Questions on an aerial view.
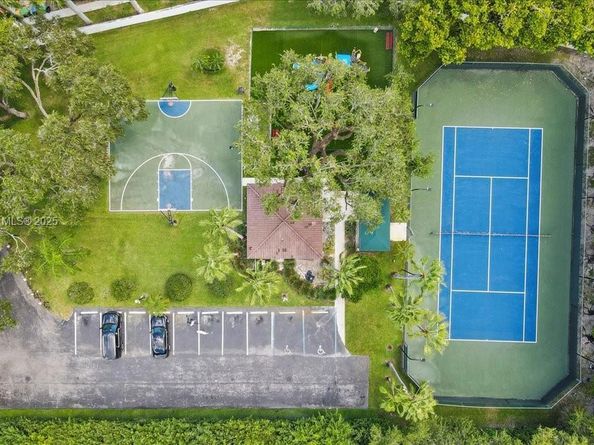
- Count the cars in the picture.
two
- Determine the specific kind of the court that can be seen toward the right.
tennis court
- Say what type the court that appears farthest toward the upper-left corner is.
basketball court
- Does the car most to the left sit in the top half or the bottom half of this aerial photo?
bottom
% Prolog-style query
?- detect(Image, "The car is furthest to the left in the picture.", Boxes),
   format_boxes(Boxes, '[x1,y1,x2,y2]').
[98,311,121,358]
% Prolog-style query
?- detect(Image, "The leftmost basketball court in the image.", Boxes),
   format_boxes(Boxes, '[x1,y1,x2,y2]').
[110,99,242,211]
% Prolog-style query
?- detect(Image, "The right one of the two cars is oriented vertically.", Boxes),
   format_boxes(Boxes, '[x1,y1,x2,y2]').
[147,314,169,359]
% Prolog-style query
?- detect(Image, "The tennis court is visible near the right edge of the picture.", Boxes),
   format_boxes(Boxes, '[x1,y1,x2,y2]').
[402,71,575,399]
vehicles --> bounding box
[147,314,169,359]
[98,311,121,358]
